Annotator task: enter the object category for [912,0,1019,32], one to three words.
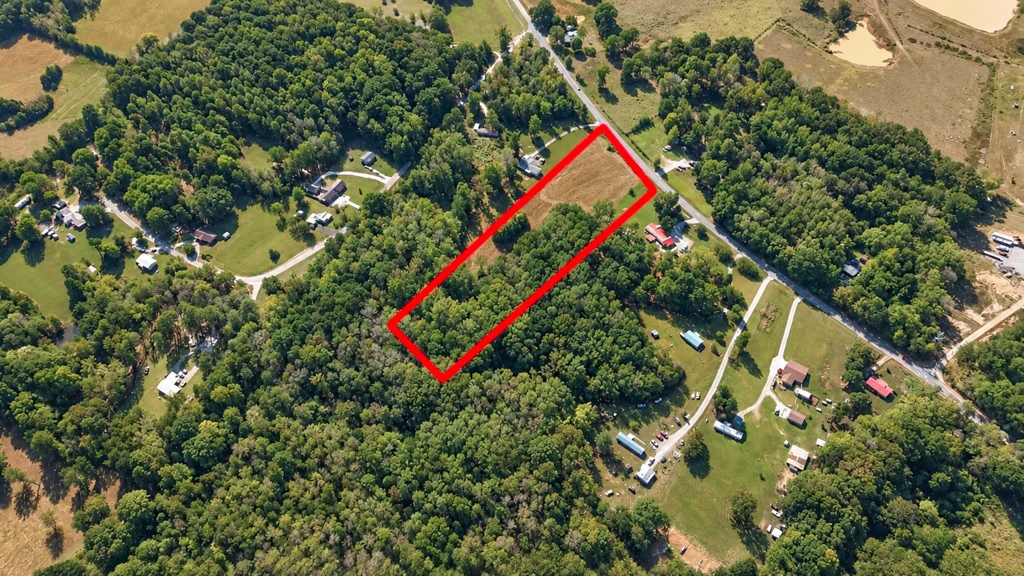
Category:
pond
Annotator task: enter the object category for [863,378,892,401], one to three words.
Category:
house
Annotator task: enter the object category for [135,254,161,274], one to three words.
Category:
barn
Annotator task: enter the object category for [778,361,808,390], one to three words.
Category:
house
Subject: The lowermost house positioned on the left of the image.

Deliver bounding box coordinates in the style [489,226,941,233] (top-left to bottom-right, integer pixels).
[159,374,184,396]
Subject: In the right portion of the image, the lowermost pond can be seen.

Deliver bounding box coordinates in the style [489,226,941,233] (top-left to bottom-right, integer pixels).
[829,21,894,66]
